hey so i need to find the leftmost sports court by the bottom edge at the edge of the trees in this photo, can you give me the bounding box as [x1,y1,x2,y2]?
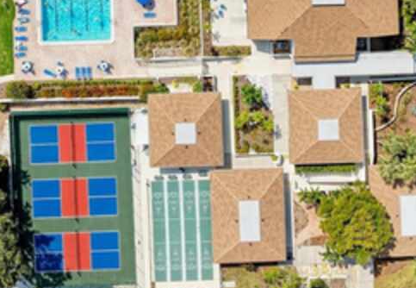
[34,230,121,276]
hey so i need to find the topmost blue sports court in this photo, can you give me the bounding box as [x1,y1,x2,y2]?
[30,121,116,167]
